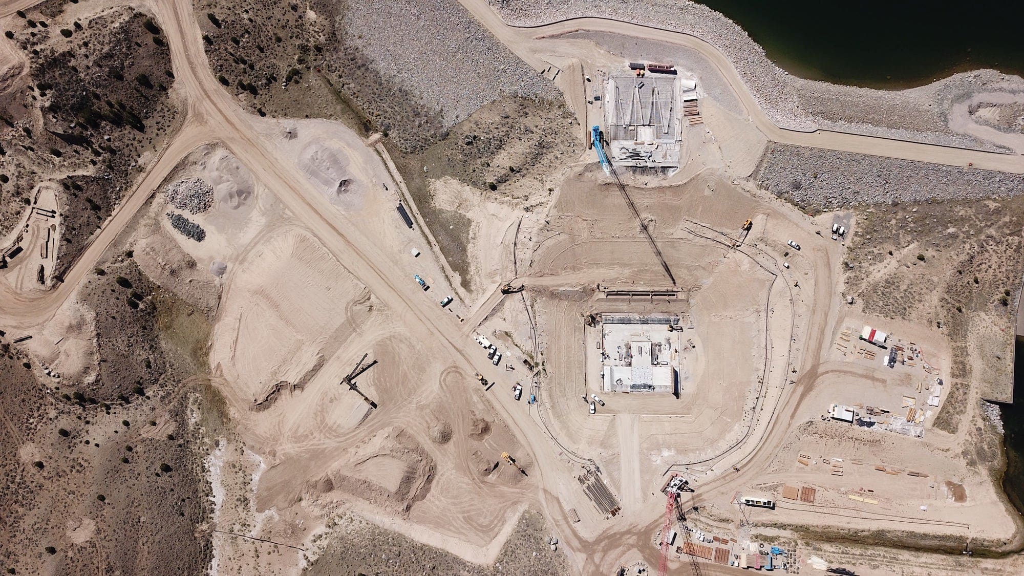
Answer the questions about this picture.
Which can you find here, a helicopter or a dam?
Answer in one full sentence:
There is a dam in the scene.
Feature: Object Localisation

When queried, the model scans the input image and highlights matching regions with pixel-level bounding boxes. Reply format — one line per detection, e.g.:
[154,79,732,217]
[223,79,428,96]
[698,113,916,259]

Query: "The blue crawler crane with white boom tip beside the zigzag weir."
[588,124,611,178]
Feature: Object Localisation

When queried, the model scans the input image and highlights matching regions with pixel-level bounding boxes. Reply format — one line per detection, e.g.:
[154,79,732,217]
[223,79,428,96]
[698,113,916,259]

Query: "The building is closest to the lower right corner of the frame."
[828,404,853,421]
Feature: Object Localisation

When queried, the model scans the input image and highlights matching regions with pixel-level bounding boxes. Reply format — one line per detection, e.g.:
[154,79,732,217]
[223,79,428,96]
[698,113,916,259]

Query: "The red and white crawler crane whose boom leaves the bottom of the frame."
[653,470,685,576]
